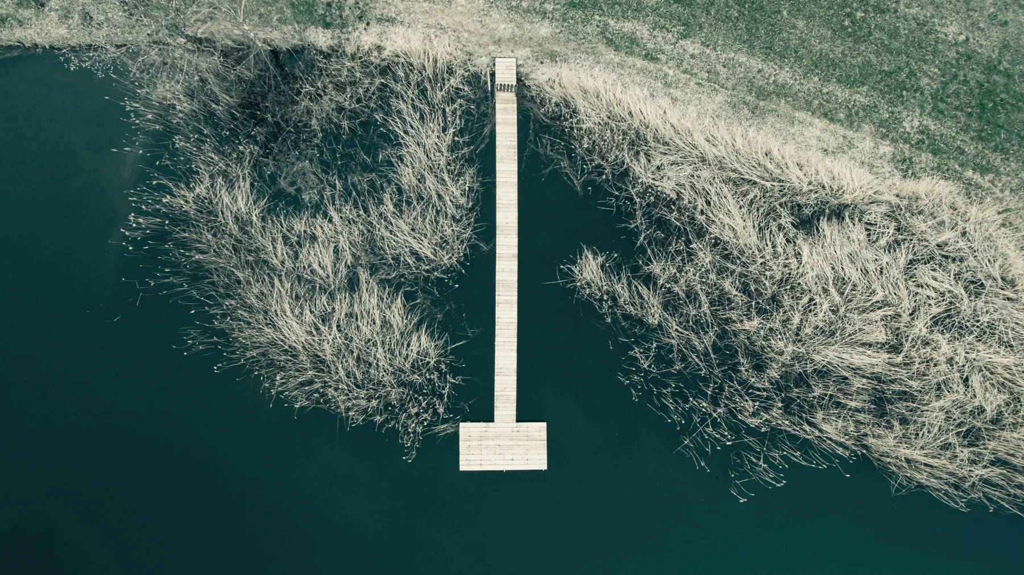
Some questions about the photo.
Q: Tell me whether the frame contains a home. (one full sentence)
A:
No, this view has no home in it.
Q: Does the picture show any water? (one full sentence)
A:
Yes, water shows up in the scene.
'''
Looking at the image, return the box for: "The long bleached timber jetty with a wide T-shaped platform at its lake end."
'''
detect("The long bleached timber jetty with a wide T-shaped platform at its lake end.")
[459,58,547,473]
